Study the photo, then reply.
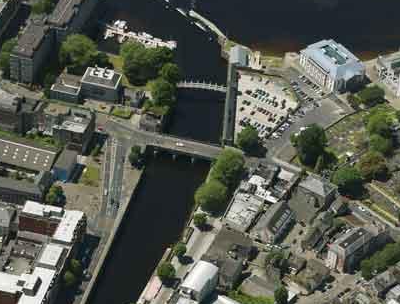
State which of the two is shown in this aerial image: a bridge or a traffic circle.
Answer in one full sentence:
The image shows a bridge.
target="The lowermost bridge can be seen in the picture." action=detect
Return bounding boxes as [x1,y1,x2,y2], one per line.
[141,137,219,172]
